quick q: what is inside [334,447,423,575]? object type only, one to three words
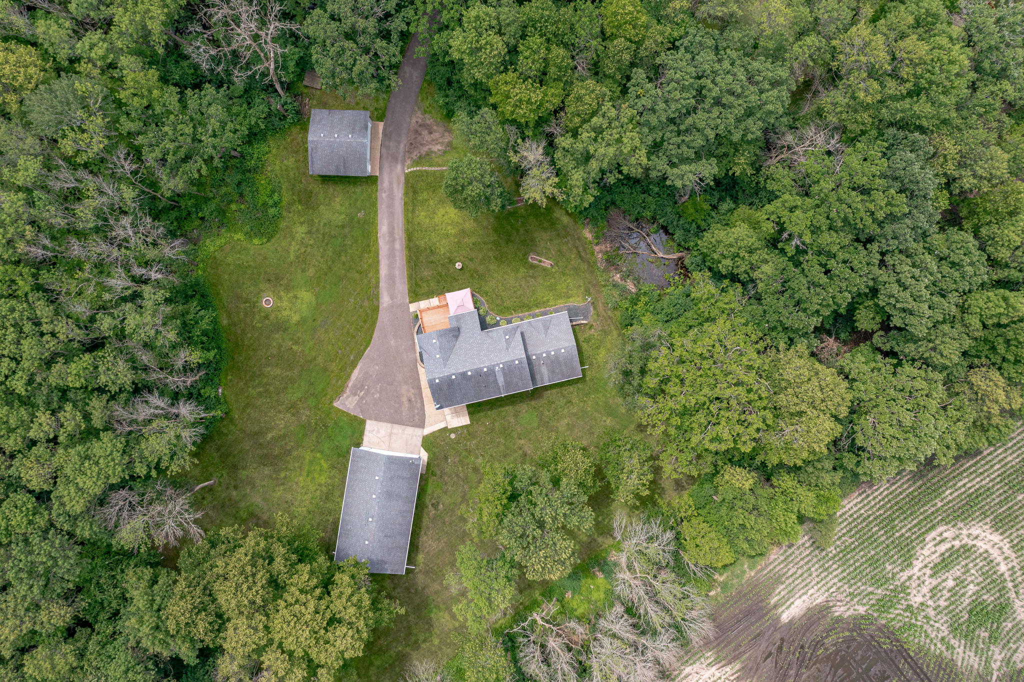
building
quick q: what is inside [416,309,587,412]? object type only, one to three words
house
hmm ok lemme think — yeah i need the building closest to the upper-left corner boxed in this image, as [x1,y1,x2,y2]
[307,109,374,179]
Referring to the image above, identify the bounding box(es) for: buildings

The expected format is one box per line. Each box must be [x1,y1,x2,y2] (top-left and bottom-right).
[334,447,423,575]
[307,109,374,179]
[416,309,587,412]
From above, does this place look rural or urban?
rural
